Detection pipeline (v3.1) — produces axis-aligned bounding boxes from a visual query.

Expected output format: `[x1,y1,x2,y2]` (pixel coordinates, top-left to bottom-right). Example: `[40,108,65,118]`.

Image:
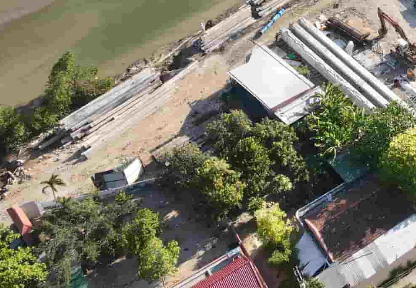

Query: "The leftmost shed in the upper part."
[228,41,321,135]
